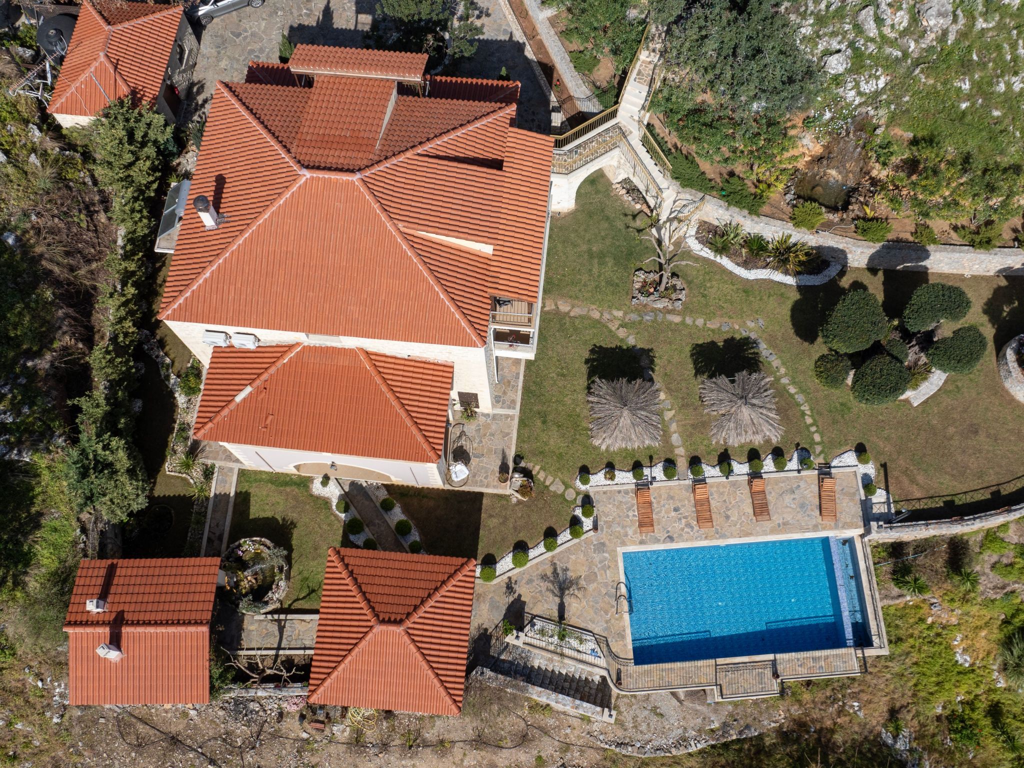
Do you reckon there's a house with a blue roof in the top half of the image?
No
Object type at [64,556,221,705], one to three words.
house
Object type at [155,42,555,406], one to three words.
house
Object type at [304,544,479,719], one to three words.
building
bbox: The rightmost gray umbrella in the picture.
[692,366,783,454]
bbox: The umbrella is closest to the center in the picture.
[580,373,668,454]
